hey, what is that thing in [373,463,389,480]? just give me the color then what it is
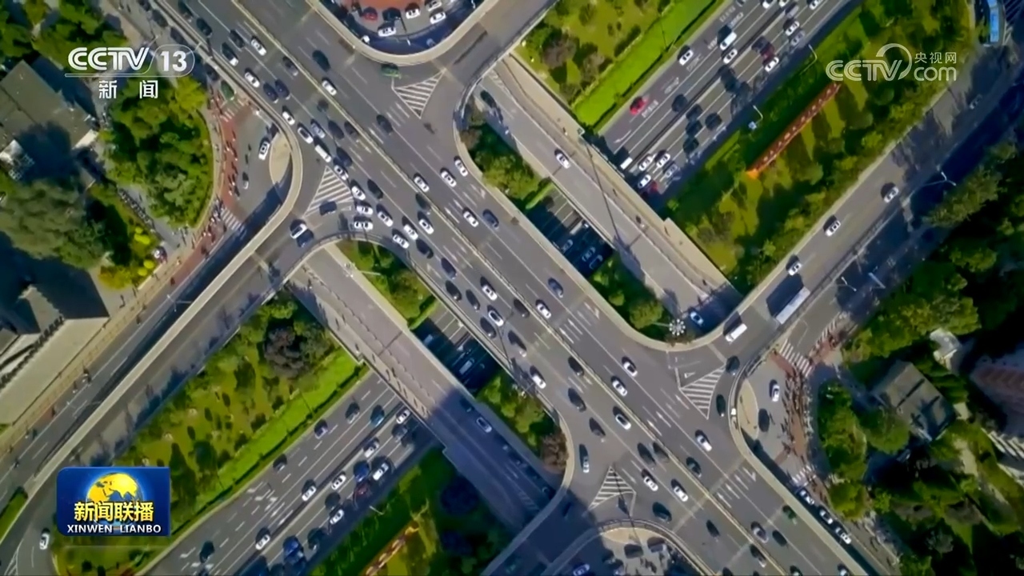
white car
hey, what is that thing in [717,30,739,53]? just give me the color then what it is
white vehicle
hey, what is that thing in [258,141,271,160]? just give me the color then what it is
white vehicle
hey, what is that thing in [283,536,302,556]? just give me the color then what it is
blue vehicle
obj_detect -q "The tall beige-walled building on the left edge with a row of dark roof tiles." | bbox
[0,284,109,434]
